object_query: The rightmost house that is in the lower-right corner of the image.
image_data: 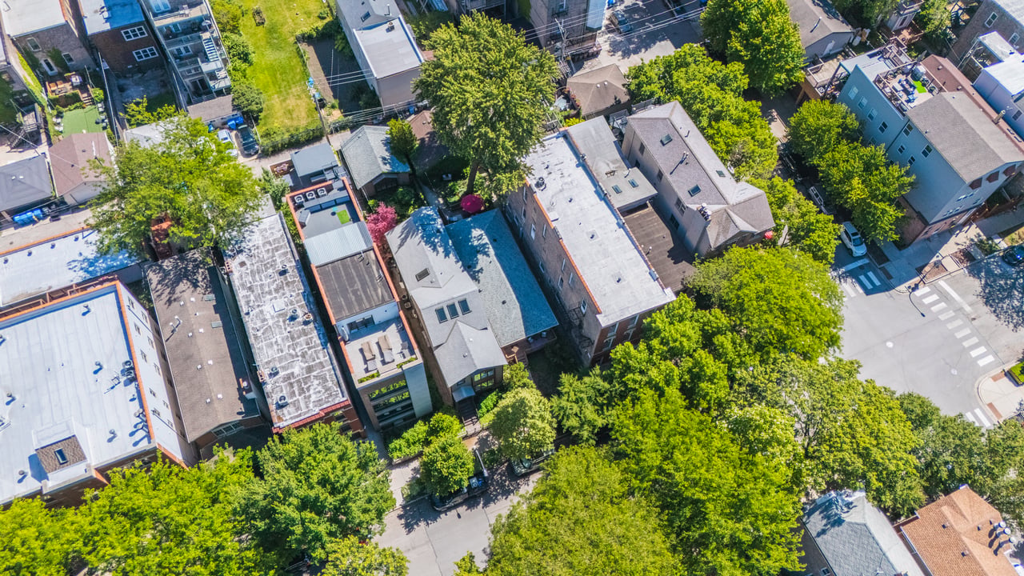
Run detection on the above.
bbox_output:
[895,487,1024,576]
